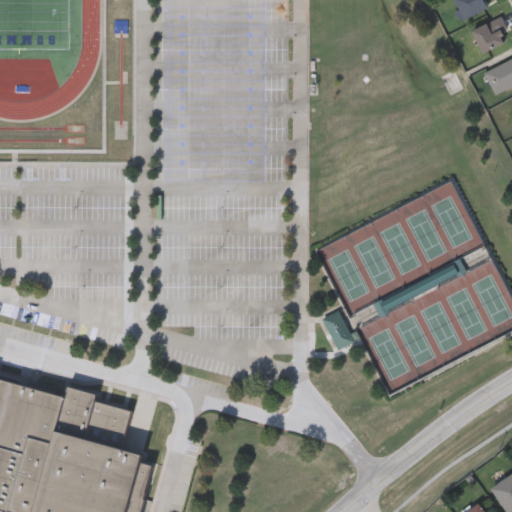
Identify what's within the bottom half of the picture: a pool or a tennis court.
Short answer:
tennis court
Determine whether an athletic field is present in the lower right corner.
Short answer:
No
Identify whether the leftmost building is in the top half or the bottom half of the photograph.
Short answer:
bottom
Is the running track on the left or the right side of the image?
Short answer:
left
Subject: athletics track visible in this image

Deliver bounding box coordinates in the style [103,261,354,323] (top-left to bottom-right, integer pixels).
[0,0,102,122]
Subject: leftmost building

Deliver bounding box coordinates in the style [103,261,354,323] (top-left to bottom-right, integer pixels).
[0,377,153,512]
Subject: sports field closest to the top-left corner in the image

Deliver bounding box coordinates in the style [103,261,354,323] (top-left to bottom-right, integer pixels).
[0,0,82,102]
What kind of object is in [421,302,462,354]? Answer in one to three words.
tennis court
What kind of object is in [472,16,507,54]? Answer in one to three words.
house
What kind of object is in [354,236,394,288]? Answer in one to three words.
tennis court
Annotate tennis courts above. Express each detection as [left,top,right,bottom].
[380,222,420,274]
[472,276,512,328]
[369,328,410,380]
[421,302,462,354]
[447,288,488,341]
[432,196,472,248]
[354,236,394,288]
[395,315,436,367]
[406,209,446,262]
[328,248,368,300]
